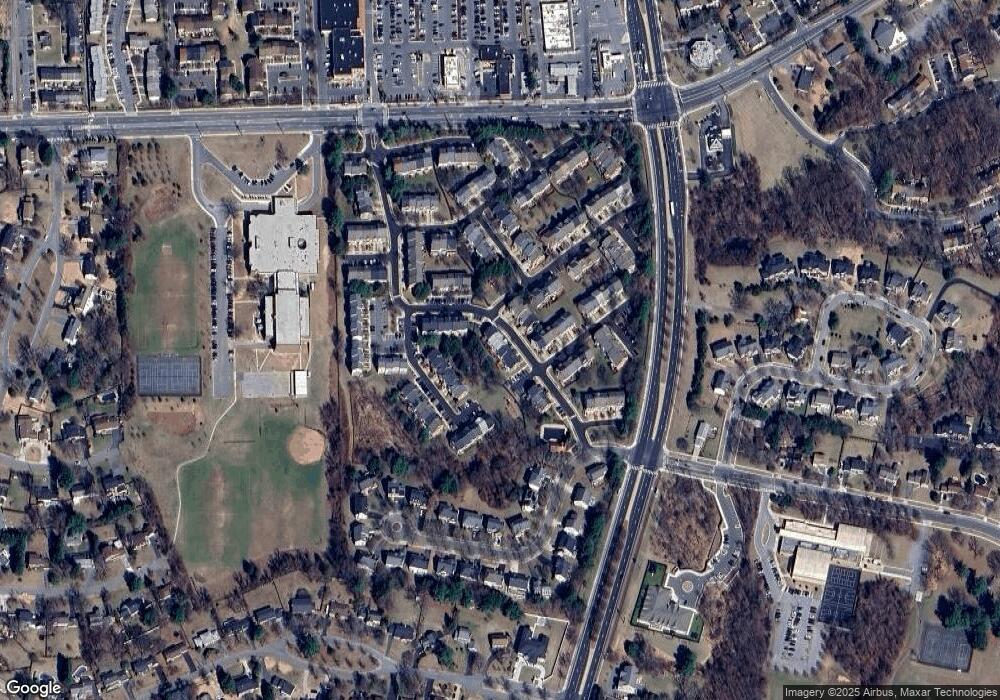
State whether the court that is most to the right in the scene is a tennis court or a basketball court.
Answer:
tennis court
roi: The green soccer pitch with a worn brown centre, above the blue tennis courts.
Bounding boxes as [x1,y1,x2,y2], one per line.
[130,221,202,357]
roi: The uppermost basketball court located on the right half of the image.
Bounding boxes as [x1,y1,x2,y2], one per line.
[818,564,861,625]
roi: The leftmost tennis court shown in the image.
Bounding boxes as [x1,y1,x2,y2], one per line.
[138,356,200,396]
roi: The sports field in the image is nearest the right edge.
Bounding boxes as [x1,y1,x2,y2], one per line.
[180,411,330,574]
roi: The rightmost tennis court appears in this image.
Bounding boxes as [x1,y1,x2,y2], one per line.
[920,624,973,672]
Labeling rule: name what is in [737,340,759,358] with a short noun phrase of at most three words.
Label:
house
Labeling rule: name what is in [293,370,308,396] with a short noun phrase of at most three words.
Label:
shed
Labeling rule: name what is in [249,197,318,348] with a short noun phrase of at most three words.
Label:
building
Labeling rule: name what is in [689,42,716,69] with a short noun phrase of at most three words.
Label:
building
